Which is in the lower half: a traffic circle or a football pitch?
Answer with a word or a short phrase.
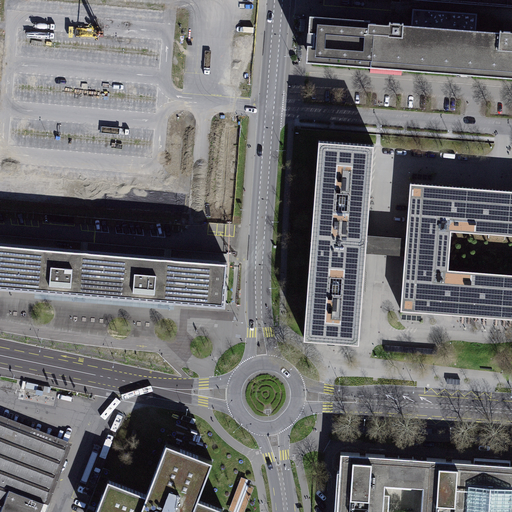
traffic circle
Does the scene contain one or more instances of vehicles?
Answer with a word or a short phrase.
Yes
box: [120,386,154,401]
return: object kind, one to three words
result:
vehicle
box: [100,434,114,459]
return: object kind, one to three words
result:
vehicle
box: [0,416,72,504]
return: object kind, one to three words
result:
shed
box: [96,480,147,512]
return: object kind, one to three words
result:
building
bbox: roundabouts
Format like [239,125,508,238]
[225,354,306,435]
